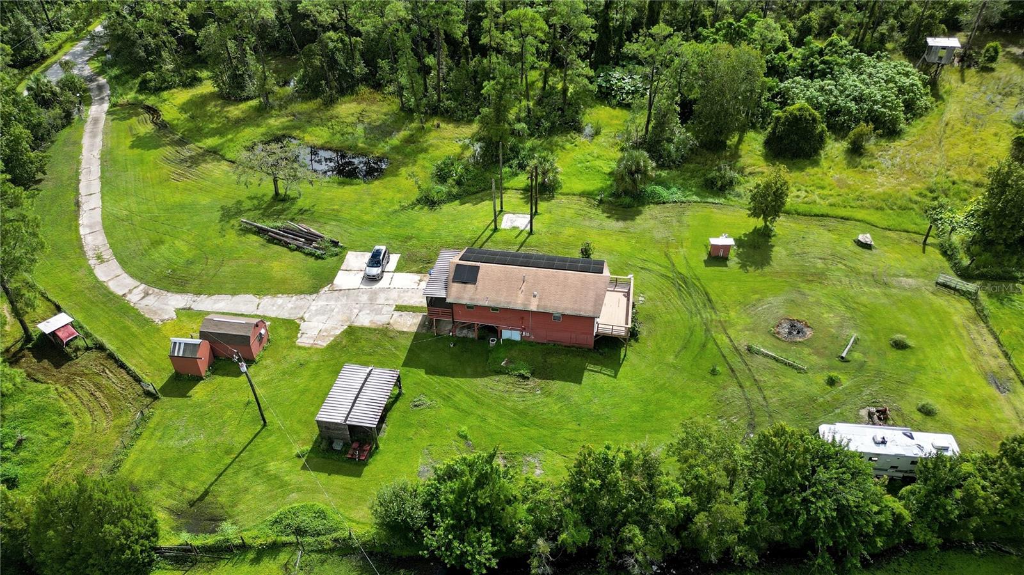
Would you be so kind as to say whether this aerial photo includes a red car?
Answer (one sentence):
No, no red car can be seen from above.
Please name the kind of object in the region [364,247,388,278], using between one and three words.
car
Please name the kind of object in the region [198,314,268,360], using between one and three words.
shed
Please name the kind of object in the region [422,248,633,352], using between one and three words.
house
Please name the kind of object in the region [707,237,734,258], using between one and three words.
shed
